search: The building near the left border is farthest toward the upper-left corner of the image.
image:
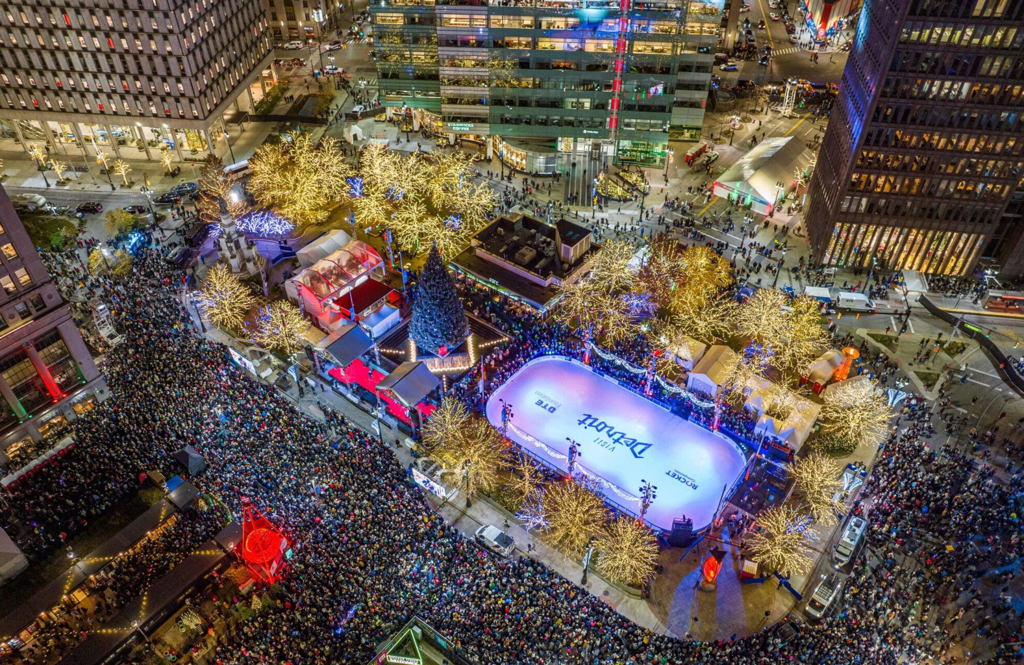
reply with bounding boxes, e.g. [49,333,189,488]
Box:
[0,0,284,171]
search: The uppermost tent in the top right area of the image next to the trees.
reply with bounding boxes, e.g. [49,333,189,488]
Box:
[711,134,816,227]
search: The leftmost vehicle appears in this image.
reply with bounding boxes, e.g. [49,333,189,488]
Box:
[4,191,42,208]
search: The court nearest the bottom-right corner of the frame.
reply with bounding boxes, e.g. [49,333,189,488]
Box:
[484,350,750,531]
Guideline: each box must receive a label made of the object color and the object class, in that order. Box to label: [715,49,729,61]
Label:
red vehicle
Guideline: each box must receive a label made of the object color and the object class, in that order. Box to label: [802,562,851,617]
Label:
gray van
